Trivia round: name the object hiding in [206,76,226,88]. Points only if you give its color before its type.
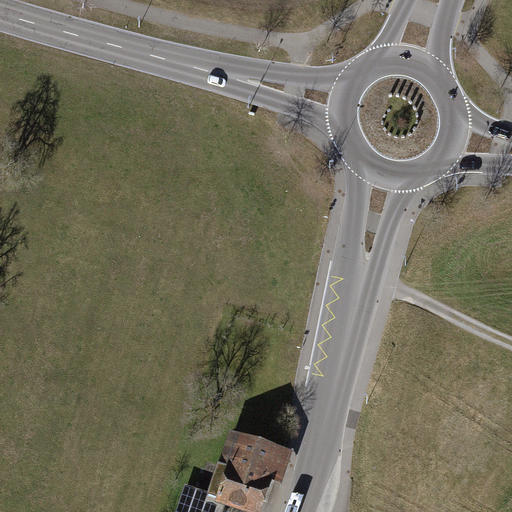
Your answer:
white vehicle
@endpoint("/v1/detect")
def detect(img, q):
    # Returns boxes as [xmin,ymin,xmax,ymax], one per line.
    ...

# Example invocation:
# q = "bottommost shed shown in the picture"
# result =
[176,484,218,512]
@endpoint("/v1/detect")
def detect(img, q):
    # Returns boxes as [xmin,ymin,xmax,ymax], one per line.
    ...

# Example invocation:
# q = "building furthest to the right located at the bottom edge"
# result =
[206,431,294,512]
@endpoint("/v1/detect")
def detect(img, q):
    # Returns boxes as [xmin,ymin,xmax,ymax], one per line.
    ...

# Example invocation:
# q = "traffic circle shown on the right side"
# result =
[326,42,472,194]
